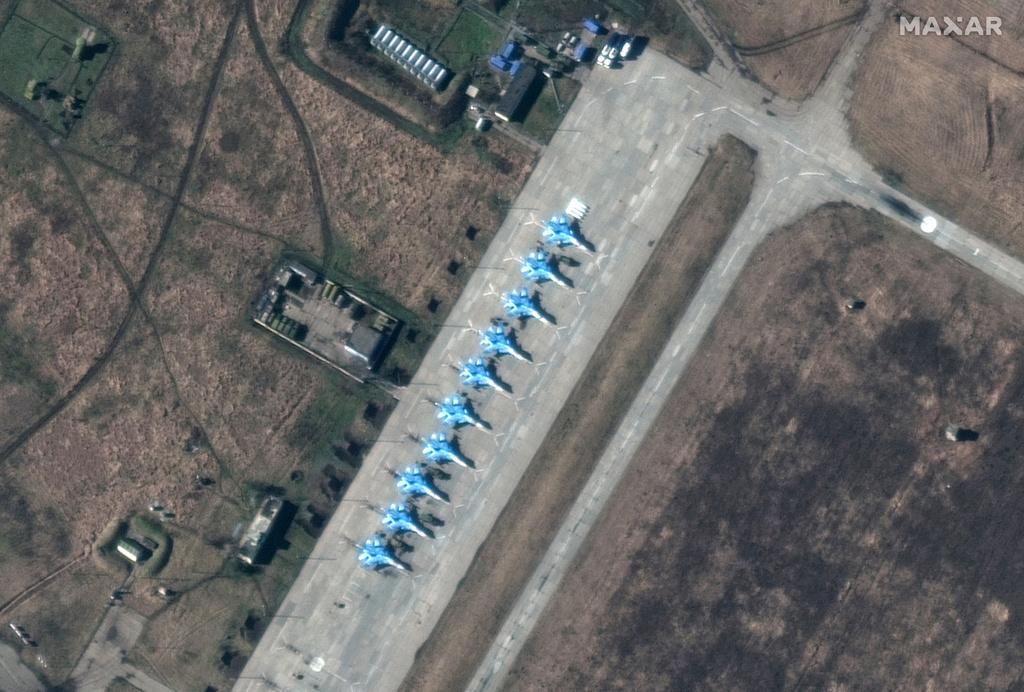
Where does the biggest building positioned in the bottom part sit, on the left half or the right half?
left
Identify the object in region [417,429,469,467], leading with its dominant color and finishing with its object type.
blue airplane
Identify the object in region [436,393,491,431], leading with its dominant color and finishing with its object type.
blue airplane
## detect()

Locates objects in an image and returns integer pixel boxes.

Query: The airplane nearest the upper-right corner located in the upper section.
[539,217,594,255]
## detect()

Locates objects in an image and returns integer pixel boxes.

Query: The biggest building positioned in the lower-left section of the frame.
[237,497,286,566]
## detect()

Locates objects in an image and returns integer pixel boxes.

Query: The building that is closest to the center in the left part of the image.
[345,323,384,363]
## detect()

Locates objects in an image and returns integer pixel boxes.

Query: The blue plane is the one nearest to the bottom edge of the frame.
[354,535,409,574]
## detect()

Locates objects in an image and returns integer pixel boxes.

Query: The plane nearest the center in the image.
[478,323,533,362]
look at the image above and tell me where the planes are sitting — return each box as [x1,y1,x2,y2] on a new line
[375,500,429,538]
[436,393,491,431]
[499,286,553,325]
[396,463,450,503]
[354,535,409,574]
[539,217,594,255]
[417,429,469,467]
[519,253,571,289]
[478,323,533,362]
[458,359,511,397]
